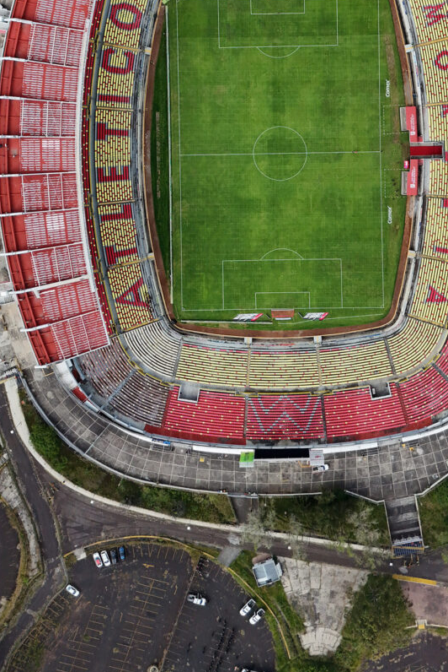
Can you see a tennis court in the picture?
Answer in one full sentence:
No, there isn't any tennis court down there.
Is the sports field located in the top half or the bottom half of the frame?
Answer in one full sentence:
You can find the sports field in the top half.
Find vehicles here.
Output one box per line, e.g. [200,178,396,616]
[251,610,265,627]
[241,601,255,617]
[117,548,125,562]
[92,554,101,569]
[313,464,330,473]
[188,596,205,606]
[65,586,78,598]
[108,551,116,566]
[100,552,109,568]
